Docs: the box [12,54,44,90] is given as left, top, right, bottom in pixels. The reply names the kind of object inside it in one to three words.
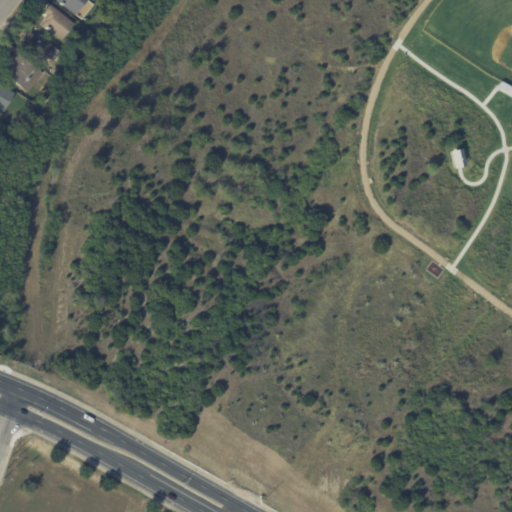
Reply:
house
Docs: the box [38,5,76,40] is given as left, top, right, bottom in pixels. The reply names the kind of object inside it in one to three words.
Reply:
house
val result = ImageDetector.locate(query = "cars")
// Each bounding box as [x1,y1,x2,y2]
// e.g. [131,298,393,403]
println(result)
[84,414,94,422]
[168,492,178,499]
[20,408,29,414]
[10,424,20,433]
